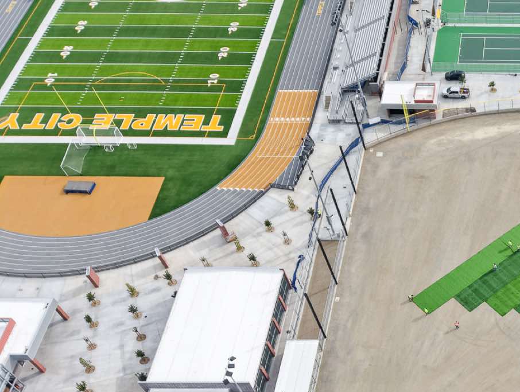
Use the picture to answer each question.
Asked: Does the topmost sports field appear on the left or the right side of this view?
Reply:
left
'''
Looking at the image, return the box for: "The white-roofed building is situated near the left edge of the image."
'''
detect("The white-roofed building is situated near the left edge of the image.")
[0,299,70,381]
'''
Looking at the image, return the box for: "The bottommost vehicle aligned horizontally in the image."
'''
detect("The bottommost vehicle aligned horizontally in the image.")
[444,85,472,98]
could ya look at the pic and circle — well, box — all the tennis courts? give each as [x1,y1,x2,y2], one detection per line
[432,26,520,76]
[440,0,520,24]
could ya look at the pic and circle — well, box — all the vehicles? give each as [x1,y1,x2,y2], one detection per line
[444,85,472,98]
[443,68,466,79]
